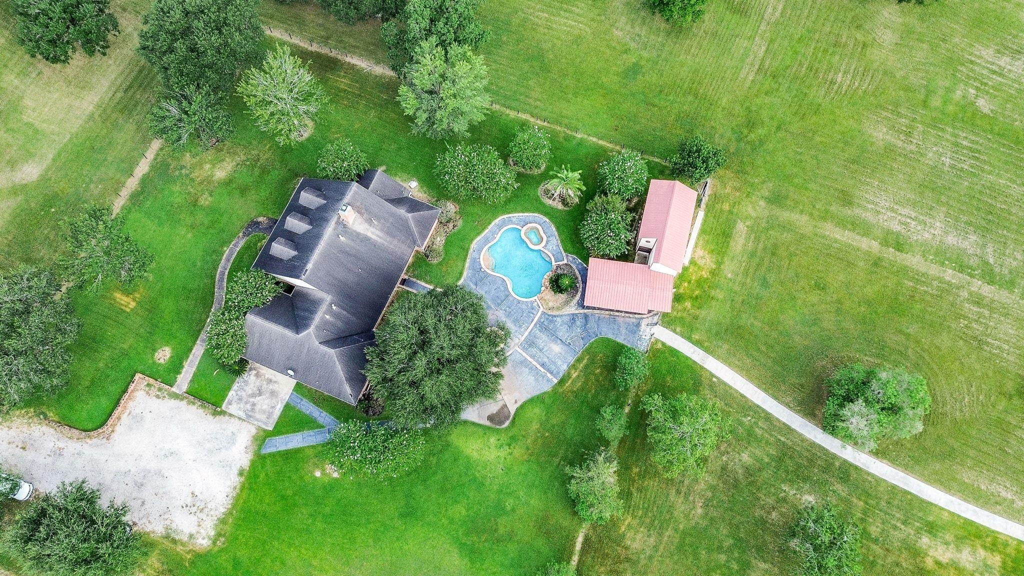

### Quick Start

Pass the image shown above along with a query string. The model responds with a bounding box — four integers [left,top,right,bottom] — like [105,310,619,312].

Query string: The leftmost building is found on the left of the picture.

[238,166,442,406]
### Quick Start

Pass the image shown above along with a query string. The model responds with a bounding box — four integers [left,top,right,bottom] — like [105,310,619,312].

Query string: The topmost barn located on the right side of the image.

[630,180,697,276]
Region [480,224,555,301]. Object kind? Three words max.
swimming pool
